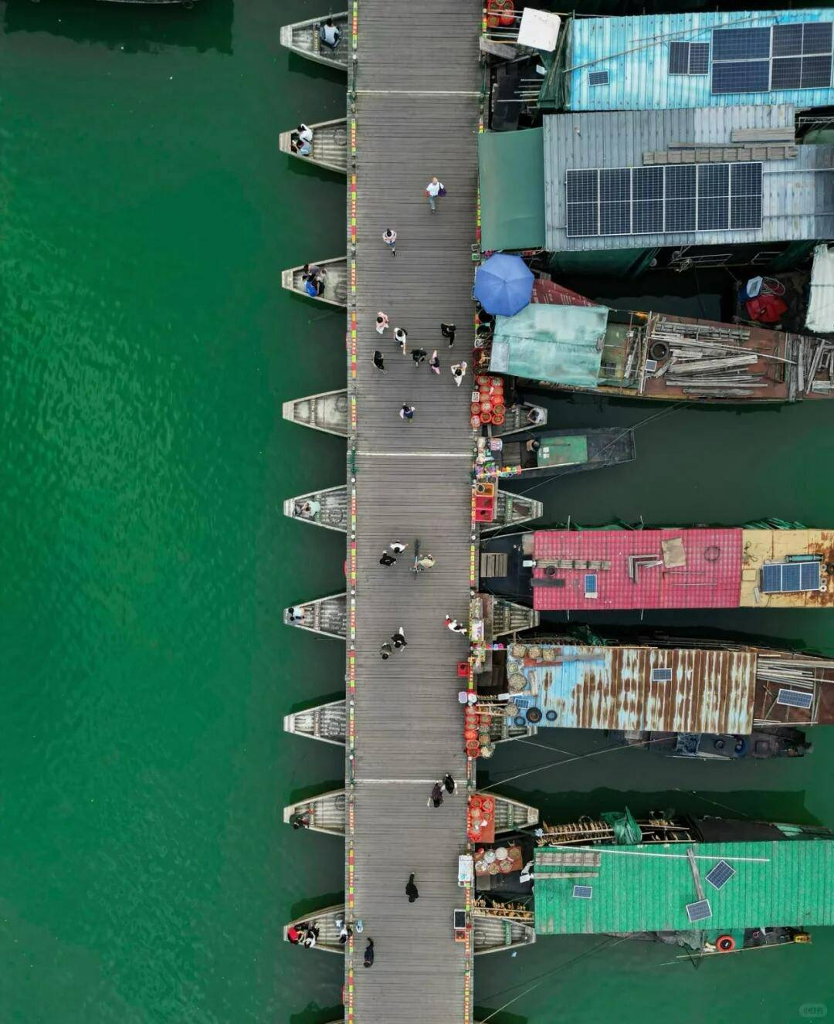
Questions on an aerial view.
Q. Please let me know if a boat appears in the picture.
Yes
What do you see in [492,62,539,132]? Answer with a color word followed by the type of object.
black boat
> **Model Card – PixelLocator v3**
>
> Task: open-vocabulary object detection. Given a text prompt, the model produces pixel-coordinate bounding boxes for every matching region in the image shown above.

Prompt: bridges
[347,0,488,1024]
